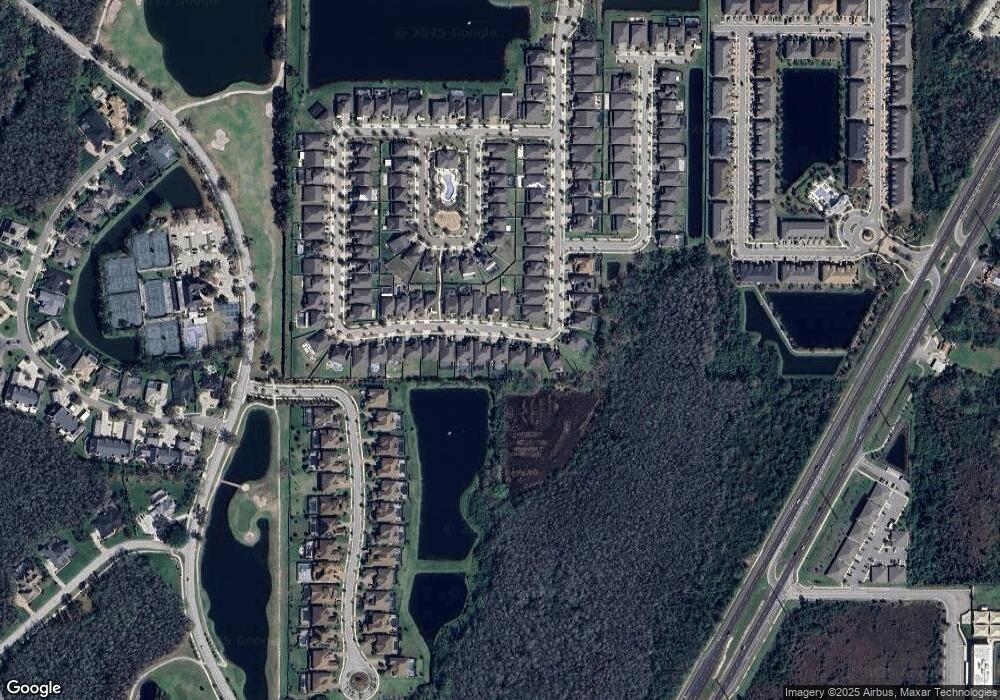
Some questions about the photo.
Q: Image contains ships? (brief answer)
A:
No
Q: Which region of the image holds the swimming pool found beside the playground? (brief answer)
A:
top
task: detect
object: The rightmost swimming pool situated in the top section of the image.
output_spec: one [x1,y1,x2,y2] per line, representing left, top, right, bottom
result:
[809,177,841,211]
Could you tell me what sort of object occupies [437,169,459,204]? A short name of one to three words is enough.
swimming pool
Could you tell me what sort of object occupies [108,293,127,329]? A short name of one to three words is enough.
sports court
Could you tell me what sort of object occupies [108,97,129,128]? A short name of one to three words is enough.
house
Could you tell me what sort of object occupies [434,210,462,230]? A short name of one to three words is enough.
playground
